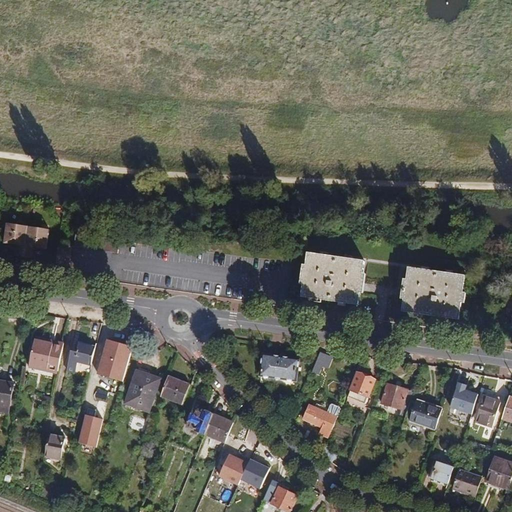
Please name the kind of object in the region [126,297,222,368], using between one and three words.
roundabout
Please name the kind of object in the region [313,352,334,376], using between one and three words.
shed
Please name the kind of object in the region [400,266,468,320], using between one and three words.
building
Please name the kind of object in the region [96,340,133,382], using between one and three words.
house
